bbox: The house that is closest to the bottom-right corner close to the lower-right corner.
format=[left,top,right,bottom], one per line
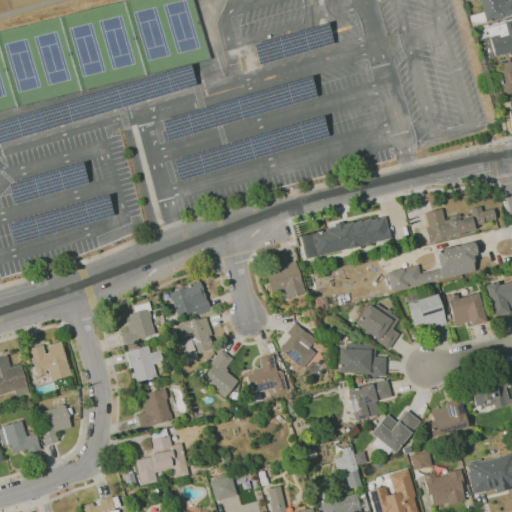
[470,453,512,496]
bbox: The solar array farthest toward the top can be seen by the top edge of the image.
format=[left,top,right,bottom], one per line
[258,22,335,63]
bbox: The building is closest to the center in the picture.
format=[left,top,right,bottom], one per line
[269,262,311,298]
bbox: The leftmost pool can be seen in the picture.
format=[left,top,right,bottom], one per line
[36,382,57,398]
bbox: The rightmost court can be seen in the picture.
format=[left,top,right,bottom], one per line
[166,0,200,54]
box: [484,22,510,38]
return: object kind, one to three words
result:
building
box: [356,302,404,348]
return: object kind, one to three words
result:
house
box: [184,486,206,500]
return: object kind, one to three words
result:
swimming pool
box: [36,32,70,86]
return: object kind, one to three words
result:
tennis court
